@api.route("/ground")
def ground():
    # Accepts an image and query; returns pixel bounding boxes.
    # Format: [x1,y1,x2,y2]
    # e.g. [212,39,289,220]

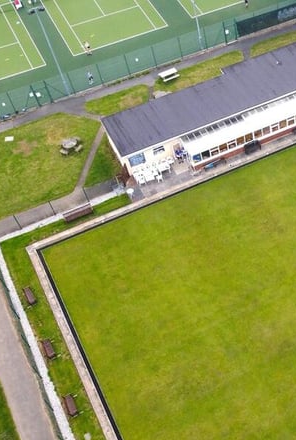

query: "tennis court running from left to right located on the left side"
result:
[42,0,167,56]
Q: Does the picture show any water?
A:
No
